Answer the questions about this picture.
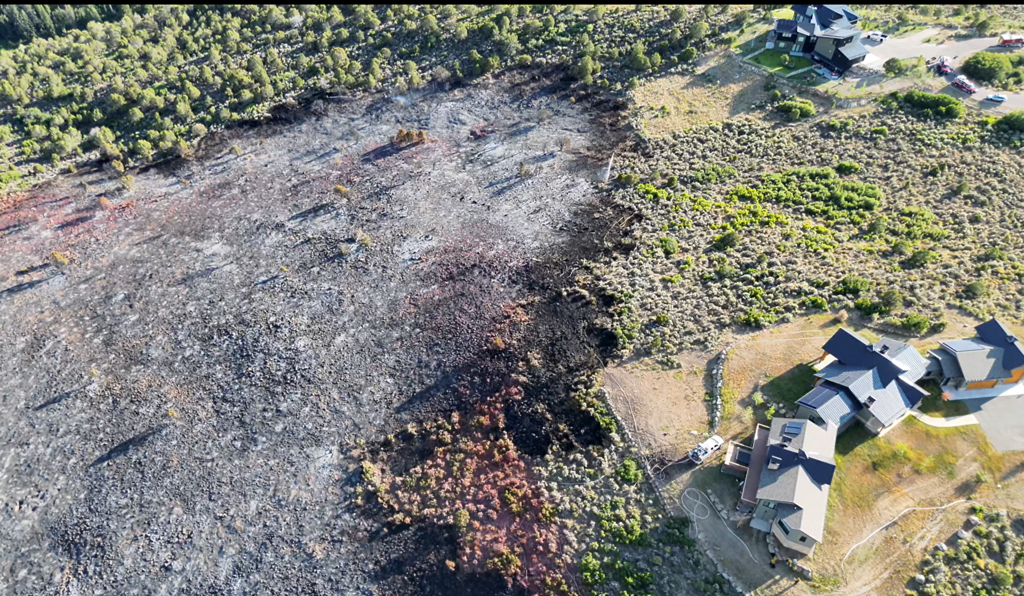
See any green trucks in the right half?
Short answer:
No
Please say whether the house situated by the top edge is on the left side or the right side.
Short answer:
right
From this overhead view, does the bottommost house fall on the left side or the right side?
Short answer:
right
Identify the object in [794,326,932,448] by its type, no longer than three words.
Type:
house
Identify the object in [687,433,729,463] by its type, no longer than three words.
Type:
truck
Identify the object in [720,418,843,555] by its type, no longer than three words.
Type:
house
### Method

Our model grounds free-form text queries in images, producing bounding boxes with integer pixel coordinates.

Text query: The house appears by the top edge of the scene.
[764,0,866,82]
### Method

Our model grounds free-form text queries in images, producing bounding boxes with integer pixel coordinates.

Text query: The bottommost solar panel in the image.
[784,421,805,435]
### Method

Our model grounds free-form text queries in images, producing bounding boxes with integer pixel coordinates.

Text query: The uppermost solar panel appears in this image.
[943,340,984,352]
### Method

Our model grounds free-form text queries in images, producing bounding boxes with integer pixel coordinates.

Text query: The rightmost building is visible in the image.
[918,318,1024,393]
